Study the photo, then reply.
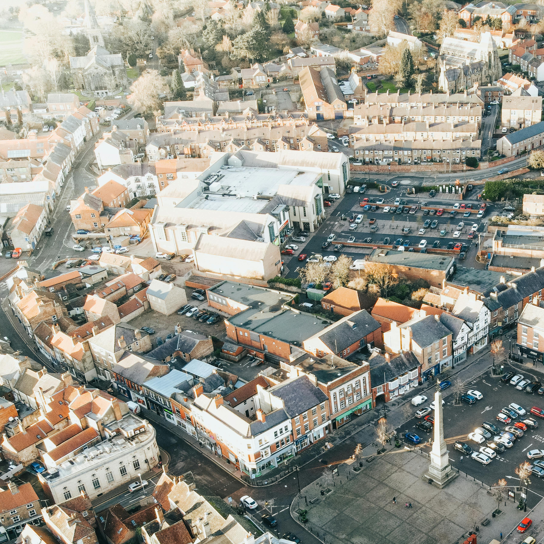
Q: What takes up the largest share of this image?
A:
buildings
